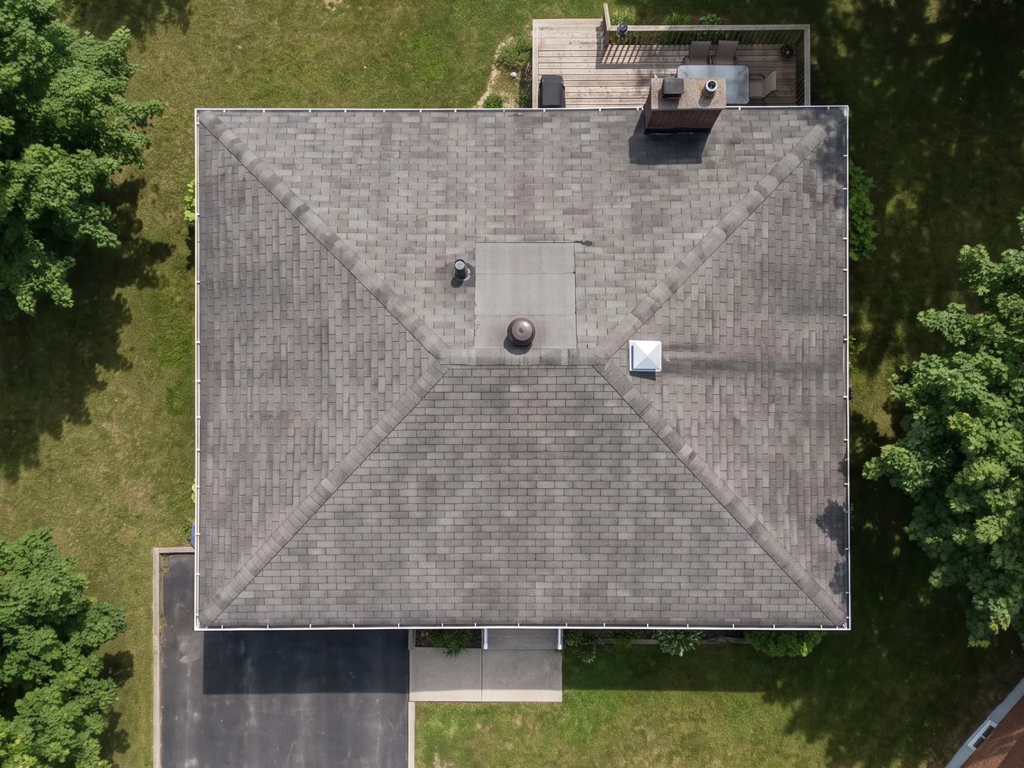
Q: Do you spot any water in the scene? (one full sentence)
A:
No, no water is visible.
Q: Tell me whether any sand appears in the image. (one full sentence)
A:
No, there is no sand in the image.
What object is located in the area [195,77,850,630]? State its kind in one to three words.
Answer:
house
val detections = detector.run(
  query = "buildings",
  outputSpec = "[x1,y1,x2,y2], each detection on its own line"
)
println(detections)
[948,678,1024,768]
[195,77,850,630]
